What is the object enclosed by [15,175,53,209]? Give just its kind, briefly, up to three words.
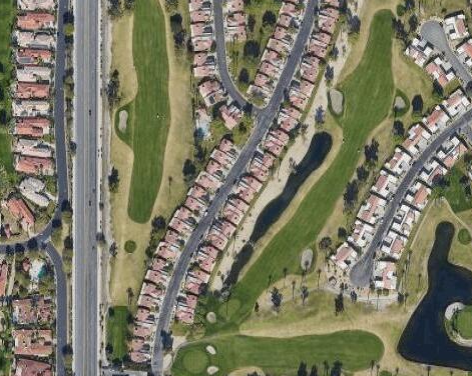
house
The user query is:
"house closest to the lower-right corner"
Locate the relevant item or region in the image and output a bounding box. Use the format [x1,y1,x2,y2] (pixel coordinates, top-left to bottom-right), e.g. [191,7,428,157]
[369,257,402,288]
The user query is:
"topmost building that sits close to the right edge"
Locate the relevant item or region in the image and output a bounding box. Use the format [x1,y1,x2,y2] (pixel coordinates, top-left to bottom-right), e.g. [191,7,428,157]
[443,11,472,43]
